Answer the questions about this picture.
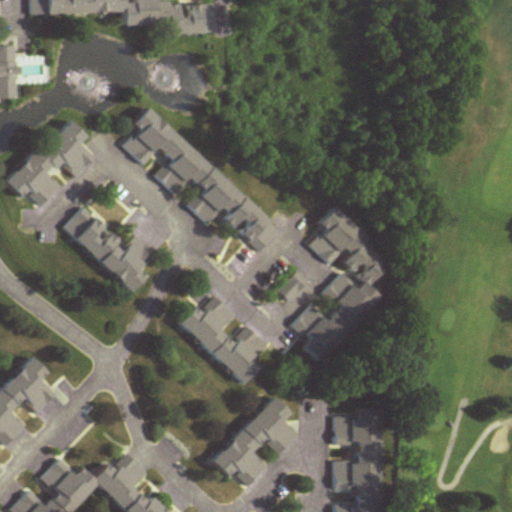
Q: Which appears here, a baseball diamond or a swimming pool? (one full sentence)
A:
The image shows a swimming pool.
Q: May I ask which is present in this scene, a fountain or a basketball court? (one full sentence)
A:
There is a fountain in the scene.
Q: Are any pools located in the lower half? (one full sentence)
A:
No, no pool is visible in the lower half.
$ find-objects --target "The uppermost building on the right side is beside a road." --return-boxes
[307,212,383,286]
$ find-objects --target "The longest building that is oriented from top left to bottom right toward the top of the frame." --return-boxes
[120,108,274,241]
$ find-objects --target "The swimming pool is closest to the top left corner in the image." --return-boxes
[17,54,49,84]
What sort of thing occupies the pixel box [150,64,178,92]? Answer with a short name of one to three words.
fountain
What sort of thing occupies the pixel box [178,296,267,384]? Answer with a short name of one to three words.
house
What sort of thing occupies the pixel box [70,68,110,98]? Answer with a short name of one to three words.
fountain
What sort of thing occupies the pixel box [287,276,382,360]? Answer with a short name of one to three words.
house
